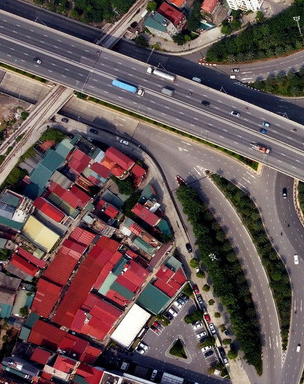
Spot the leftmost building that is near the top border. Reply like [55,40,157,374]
[144,13,169,37]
